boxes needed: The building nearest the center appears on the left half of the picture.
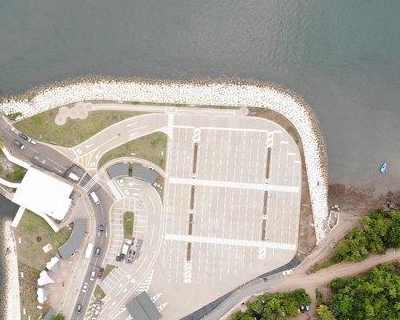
[132,164,159,183]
